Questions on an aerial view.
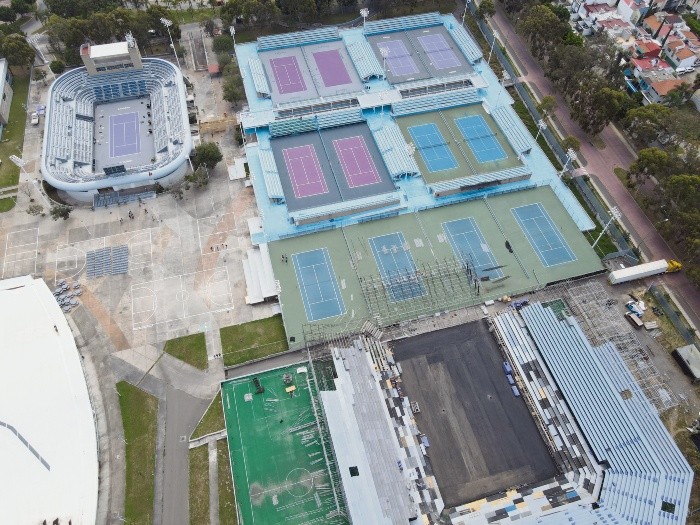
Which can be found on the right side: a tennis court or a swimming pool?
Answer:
tennis court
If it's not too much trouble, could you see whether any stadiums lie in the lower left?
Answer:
Yes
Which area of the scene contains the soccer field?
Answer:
bottom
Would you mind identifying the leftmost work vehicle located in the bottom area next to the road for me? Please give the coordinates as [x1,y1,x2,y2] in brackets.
[254,376,266,400]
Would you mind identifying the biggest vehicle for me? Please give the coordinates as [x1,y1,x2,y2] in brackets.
[600,258,680,280]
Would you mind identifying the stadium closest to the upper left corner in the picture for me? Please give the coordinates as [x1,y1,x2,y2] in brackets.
[40,55,193,208]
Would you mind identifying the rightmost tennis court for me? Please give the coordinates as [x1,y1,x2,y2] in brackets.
[486,185,604,286]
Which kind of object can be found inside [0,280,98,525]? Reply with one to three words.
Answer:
stadium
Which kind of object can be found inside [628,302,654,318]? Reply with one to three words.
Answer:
vehicle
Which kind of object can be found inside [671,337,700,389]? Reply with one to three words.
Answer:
shed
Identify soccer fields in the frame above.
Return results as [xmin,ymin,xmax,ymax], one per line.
[221,360,349,525]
